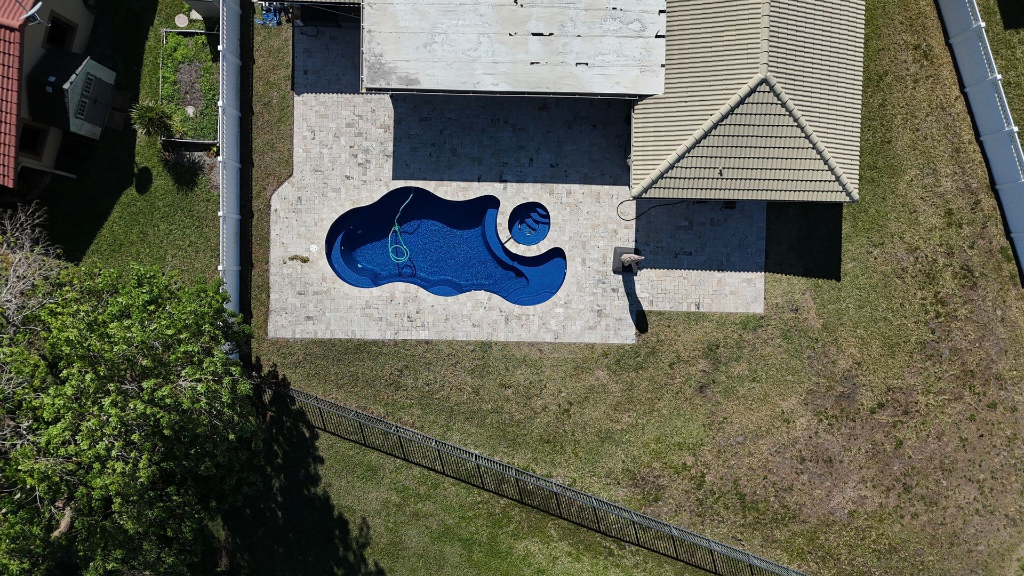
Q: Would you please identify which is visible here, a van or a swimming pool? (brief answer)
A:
swimming pool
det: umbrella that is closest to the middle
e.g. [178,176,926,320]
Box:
[613,247,651,275]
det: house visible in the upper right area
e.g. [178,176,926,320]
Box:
[629,0,868,206]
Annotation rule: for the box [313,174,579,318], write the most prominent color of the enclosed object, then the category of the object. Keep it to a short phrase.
blue swimming pool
